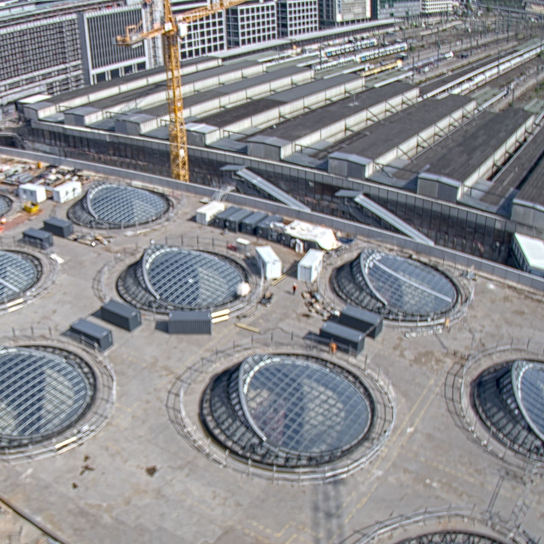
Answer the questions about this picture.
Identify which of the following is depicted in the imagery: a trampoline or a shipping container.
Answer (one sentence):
It is a shipping container that can be seen here.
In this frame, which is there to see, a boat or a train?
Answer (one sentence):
Visible in the photo is a train.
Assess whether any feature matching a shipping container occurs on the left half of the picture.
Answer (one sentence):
Yes, on the left half of the picture there is a shipping container.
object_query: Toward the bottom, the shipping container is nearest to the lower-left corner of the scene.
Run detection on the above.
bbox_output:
[69,318,115,355]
